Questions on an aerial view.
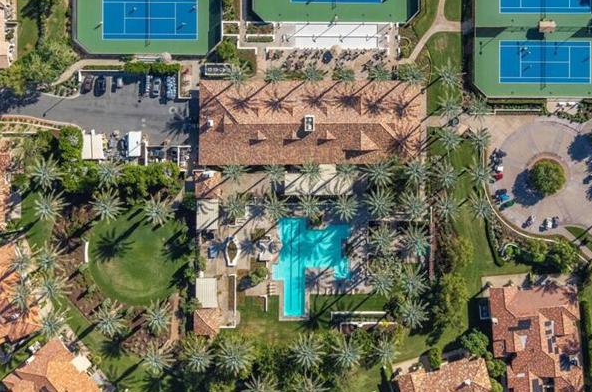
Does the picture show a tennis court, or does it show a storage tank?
tennis court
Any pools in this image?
Yes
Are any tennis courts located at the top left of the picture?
Yes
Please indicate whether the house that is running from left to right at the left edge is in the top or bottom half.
bottom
